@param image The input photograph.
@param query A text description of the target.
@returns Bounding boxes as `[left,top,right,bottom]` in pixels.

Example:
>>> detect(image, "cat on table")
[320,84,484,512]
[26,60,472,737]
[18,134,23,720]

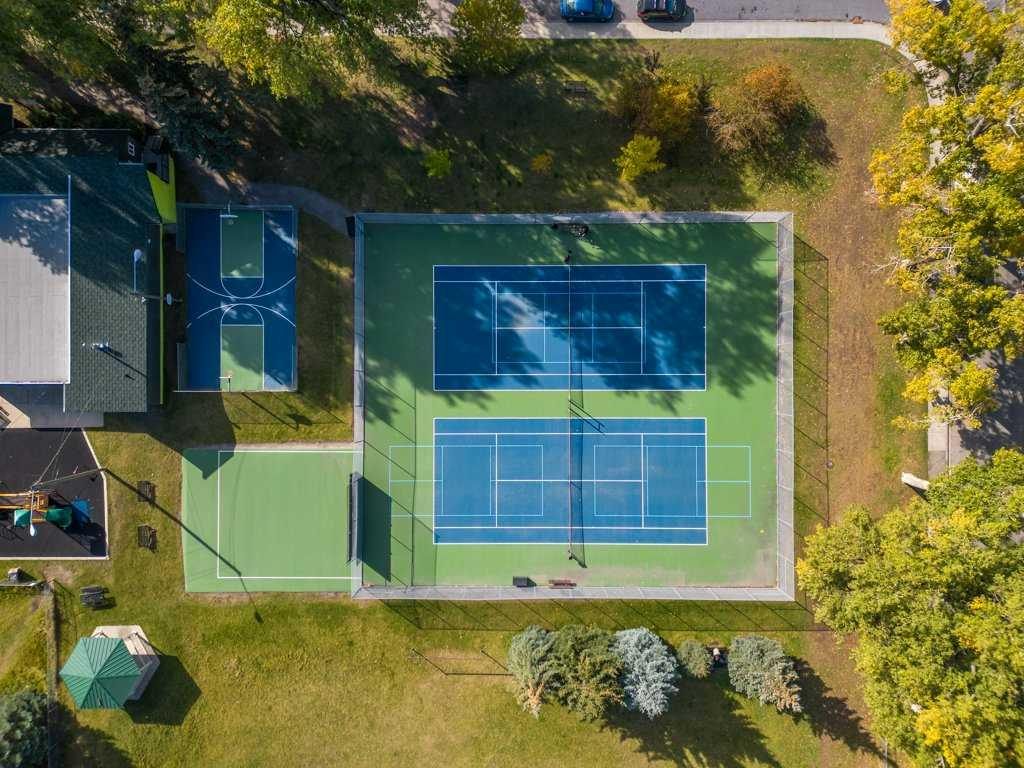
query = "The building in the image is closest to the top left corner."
[0,104,188,412]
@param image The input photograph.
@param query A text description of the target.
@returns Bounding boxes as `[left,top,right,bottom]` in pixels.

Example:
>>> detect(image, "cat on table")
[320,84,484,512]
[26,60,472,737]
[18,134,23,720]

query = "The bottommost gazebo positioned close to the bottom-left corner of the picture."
[57,627,159,712]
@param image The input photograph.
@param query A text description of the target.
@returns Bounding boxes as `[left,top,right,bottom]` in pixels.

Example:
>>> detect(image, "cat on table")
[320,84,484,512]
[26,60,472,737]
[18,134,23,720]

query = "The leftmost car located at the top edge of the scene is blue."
[560,0,613,23]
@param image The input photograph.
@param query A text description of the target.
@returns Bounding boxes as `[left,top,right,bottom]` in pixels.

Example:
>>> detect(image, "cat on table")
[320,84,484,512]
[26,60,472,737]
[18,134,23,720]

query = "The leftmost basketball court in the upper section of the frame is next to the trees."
[184,207,297,391]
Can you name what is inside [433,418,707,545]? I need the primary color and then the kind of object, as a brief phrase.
blue tennis court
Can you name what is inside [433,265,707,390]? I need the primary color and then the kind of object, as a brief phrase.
blue tennis court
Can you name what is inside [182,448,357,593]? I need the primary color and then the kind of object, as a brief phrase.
green sports court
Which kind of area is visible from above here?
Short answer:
sports ground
